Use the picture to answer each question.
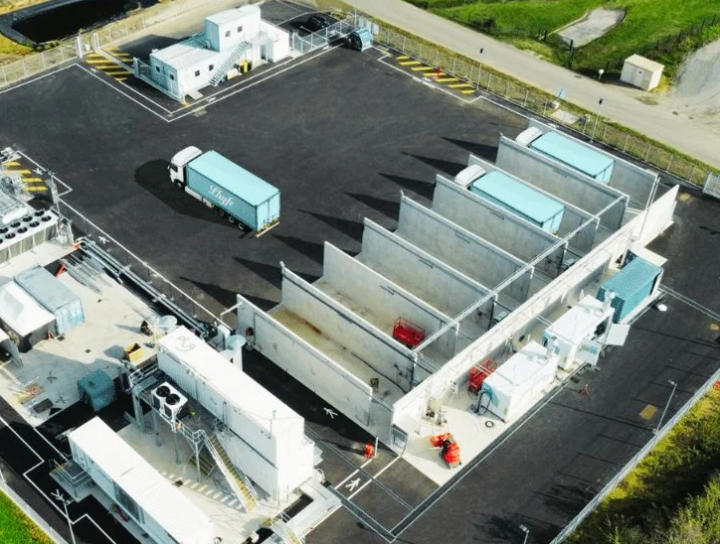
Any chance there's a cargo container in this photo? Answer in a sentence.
Yes, the photo shows a cargo container.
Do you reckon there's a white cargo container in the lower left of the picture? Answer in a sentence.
Yes, a white cargo container shows up in the lower left of the picture.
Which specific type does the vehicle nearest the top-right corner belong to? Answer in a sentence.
I'd say the vehicle nearest the top-right corner is a truck.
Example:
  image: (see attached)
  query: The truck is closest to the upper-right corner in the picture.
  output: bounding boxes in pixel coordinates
[514,126,615,184]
